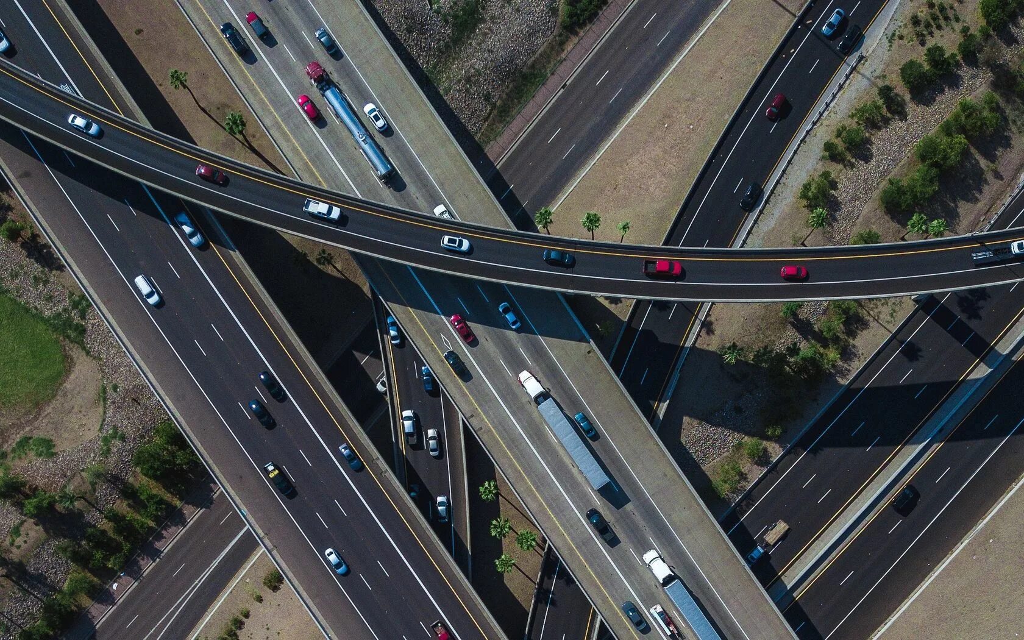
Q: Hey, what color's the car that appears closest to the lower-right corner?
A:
black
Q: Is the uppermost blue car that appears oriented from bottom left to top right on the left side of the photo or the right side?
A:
right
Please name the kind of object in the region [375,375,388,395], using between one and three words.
vehicle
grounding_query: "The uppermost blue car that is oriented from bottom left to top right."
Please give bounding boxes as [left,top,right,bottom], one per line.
[821,8,844,38]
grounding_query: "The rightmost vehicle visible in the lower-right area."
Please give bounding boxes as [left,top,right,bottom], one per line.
[893,484,919,511]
